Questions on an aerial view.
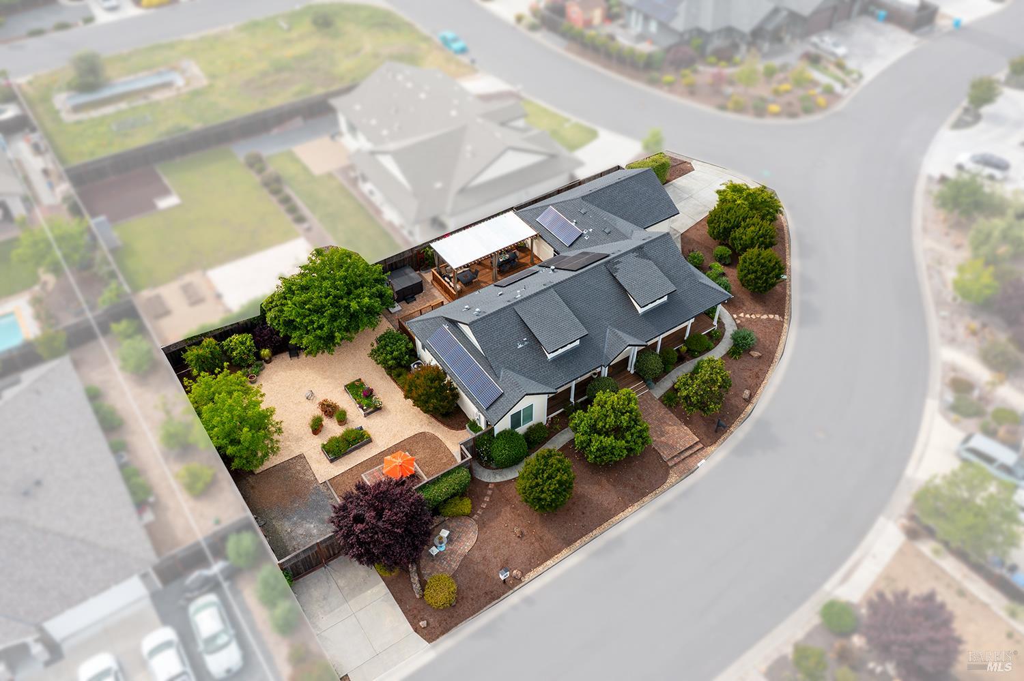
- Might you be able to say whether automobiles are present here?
Yes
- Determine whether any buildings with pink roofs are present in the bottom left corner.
No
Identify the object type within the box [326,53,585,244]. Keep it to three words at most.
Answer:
house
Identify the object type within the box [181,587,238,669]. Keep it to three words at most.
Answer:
car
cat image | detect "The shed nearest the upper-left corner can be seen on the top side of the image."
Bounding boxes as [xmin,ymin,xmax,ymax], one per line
[88,219,127,263]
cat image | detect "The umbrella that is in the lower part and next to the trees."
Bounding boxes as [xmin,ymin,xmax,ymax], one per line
[381,452,418,483]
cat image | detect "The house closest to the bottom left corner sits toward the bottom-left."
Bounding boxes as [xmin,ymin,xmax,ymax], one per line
[0,358,162,677]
